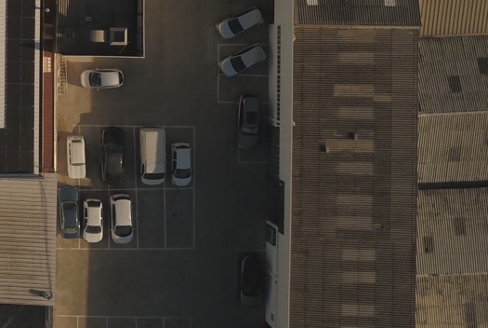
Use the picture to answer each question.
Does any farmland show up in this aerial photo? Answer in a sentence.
No, farmland can't be seen anywhere here.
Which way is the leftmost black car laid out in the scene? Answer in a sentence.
What the image shows is the leftmost black car lying up and down.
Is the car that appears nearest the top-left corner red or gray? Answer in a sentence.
The color of the car that appears nearest the top-left corner is gray.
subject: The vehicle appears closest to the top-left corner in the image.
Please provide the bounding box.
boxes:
[80,66,125,91]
